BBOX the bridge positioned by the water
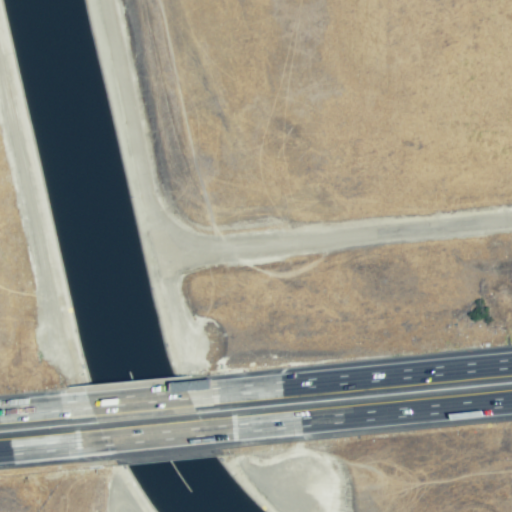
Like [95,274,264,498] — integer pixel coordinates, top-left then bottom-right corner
[68,372,235,492]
